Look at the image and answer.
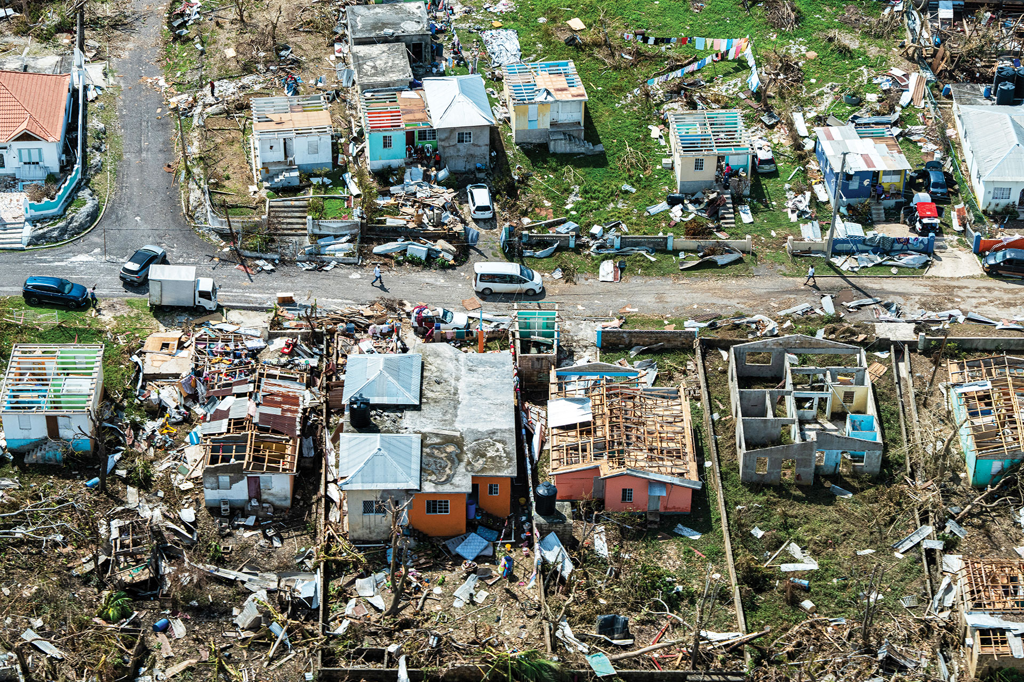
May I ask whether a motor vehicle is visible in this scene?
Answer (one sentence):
Yes, there's a motor vehicle down there.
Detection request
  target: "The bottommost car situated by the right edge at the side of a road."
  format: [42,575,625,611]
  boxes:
[979,240,1024,275]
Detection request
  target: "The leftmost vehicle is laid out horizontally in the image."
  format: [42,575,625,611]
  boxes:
[16,266,87,303]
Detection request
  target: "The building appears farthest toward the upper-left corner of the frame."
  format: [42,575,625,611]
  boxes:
[0,92,80,199]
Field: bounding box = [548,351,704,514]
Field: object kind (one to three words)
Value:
house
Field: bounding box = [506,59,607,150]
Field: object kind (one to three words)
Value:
house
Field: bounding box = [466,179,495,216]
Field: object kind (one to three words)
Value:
car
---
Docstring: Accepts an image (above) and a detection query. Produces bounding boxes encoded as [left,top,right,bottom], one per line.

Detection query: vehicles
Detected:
[143,261,221,310]
[120,240,178,283]
[979,240,1024,275]
[913,150,961,197]
[16,266,87,303]
[750,138,781,173]
[473,260,544,296]
[901,195,949,229]
[466,179,495,216]
[408,297,472,331]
